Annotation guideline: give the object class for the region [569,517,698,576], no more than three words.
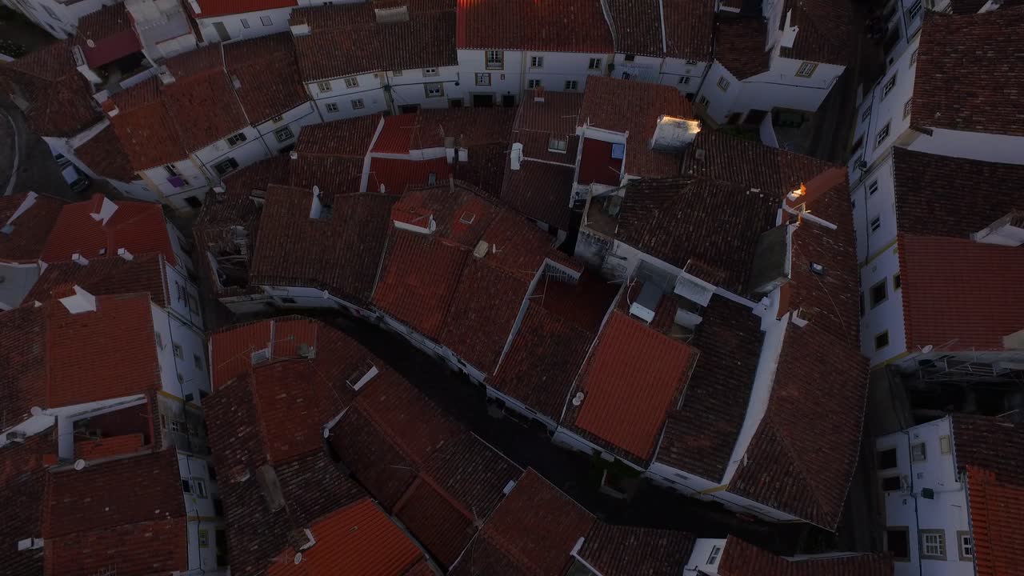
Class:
house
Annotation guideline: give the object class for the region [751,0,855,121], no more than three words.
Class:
house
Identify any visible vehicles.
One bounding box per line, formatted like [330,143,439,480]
[46,148,89,195]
